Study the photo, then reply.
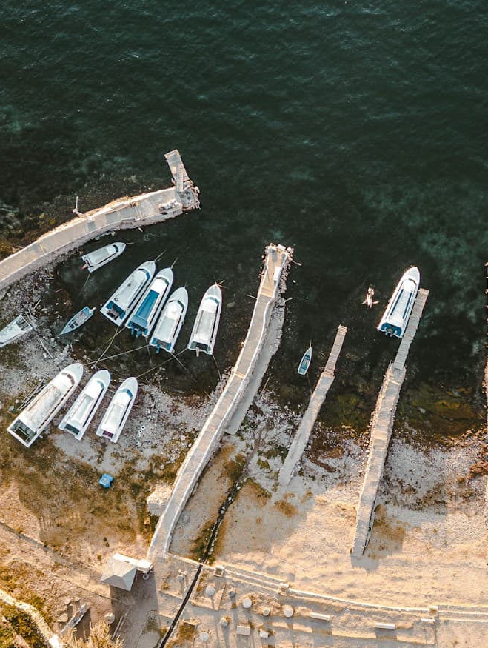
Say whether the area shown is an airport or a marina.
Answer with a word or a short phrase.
marina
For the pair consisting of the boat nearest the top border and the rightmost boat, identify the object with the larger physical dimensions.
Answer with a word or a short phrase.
the rightmost boat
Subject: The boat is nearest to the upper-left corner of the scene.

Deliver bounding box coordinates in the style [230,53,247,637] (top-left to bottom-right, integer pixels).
[82,244,125,271]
